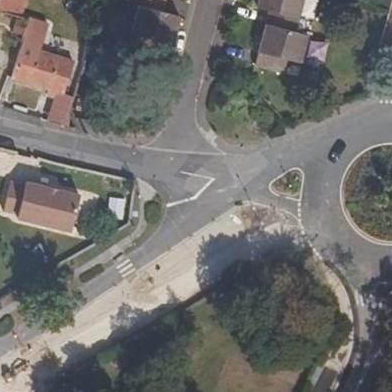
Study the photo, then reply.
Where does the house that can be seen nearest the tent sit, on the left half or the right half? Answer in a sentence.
The house that can be seen nearest the tent is on the right side of the image.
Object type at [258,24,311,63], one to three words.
house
